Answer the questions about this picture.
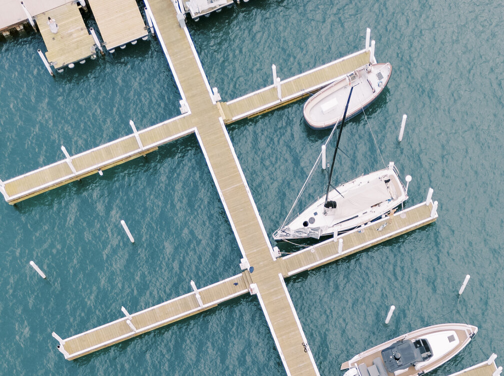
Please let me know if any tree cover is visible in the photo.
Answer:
No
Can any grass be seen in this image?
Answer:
No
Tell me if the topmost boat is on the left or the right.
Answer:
right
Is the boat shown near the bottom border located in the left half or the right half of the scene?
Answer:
right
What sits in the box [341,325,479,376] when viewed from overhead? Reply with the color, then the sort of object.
white boat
